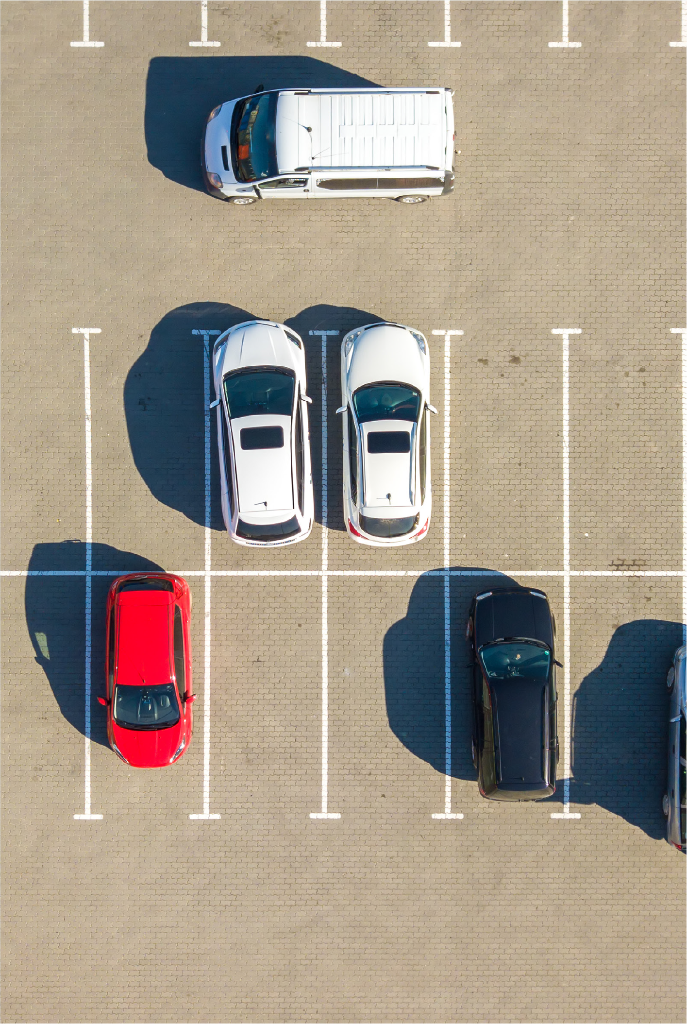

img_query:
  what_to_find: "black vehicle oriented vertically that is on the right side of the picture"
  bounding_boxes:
[465,586,567,802]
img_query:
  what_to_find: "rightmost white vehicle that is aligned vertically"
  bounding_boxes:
[336,322,438,547]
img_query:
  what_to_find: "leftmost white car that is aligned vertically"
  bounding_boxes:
[209,319,315,548]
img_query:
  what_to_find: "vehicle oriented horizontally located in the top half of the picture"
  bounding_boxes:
[201,84,459,206]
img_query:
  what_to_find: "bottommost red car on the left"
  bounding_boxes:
[96,572,197,768]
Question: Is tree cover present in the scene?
No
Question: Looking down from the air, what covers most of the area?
paved ground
